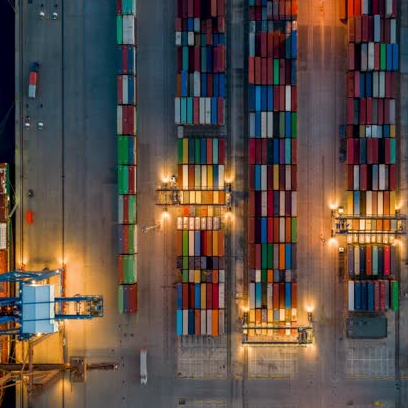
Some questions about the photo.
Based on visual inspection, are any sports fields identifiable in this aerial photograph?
No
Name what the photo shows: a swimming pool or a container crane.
container crane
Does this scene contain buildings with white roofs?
No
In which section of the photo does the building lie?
bottom right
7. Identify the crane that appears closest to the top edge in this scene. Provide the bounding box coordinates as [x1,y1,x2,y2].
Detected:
[156,182,232,211]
